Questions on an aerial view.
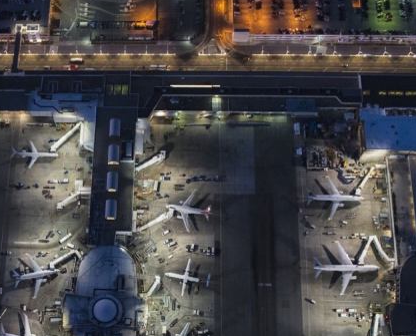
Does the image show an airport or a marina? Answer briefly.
airport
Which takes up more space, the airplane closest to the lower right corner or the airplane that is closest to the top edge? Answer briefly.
the airplane closest to the lower right corner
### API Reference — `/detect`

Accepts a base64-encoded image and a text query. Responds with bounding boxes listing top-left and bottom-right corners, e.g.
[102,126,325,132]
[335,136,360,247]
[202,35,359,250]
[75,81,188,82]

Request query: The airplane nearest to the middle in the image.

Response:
[167,188,210,231]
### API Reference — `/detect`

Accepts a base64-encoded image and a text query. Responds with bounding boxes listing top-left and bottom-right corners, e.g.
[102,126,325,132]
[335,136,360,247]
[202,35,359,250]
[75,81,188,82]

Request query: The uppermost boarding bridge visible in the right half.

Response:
[355,166,375,197]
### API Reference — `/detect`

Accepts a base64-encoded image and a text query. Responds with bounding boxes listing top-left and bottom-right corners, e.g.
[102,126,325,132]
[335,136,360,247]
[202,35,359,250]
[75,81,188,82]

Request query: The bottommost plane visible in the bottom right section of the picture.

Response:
[316,236,378,295]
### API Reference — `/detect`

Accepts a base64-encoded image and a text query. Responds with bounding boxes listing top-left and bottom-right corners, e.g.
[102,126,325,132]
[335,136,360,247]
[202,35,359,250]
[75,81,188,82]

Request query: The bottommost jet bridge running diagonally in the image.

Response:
[145,273,162,298]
